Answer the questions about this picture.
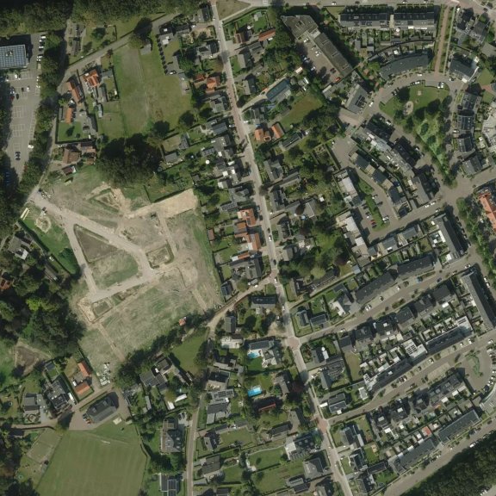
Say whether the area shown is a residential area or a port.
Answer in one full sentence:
This image shows a residential area.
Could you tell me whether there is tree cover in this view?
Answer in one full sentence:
Yes, tree cover shows up in the scene.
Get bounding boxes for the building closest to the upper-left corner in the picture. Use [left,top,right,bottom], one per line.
[0,44,27,68]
